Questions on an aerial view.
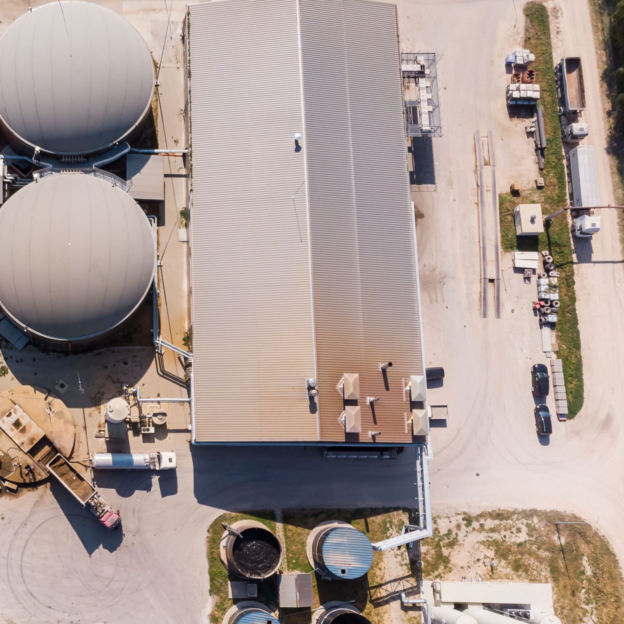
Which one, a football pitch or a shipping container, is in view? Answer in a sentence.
I can see a shipping container in this picture.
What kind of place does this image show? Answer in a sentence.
What you see here is an industrial area.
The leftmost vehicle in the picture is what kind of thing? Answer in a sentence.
I'd say the leftmost vehicle is a truck.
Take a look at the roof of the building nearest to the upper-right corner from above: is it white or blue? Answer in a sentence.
The roof of the building nearest to the upper-right corner is white.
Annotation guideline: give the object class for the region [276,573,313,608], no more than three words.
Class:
shed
